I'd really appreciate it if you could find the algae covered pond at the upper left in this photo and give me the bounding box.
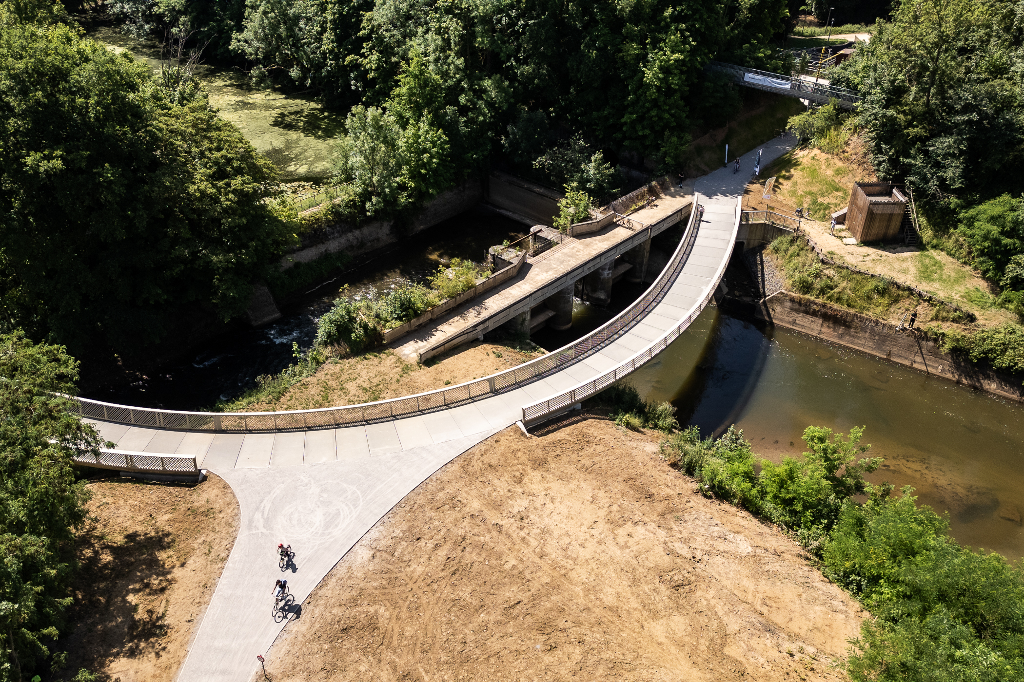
[92,26,366,201]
